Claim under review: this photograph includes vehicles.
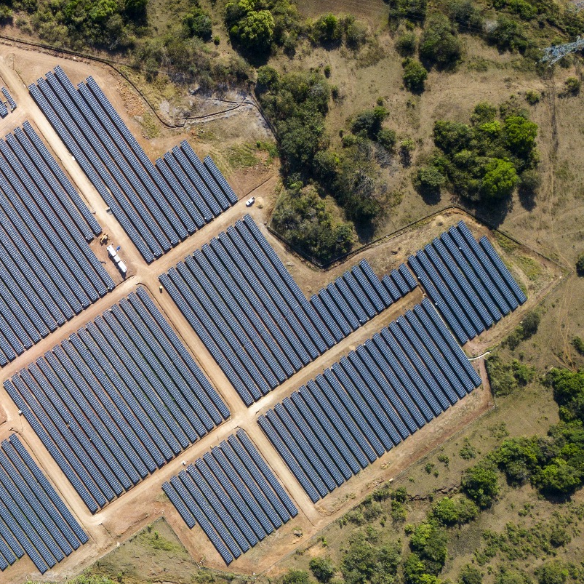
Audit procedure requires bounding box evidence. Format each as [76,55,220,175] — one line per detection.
[99,233,109,243]
[244,198,256,207]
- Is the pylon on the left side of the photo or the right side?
right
